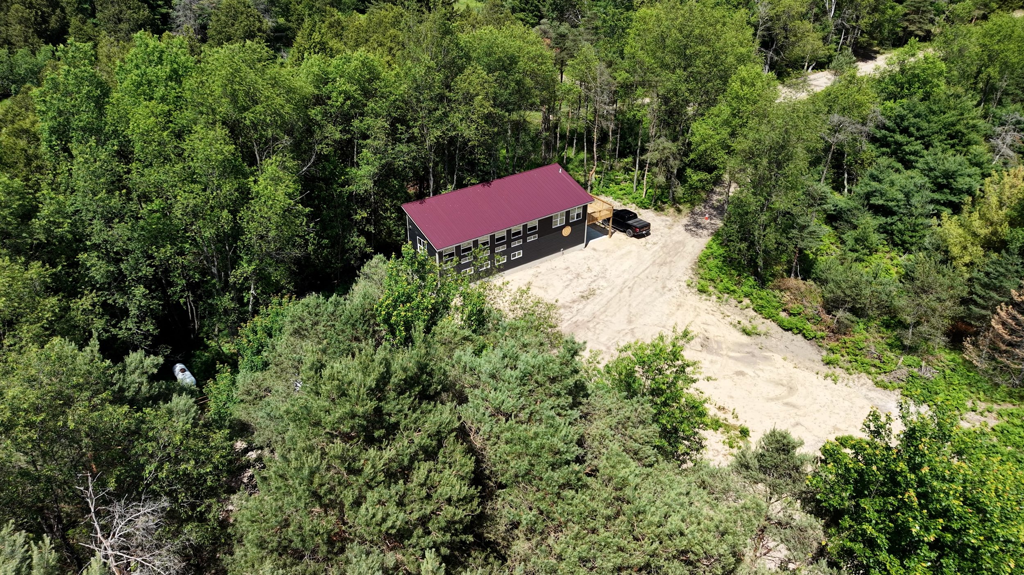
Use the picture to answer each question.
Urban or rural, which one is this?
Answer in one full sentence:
The area shown here is rural.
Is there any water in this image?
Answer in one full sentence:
No, there's no water in this view.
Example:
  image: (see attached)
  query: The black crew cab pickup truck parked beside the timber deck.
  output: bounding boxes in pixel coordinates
[605,210,653,237]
